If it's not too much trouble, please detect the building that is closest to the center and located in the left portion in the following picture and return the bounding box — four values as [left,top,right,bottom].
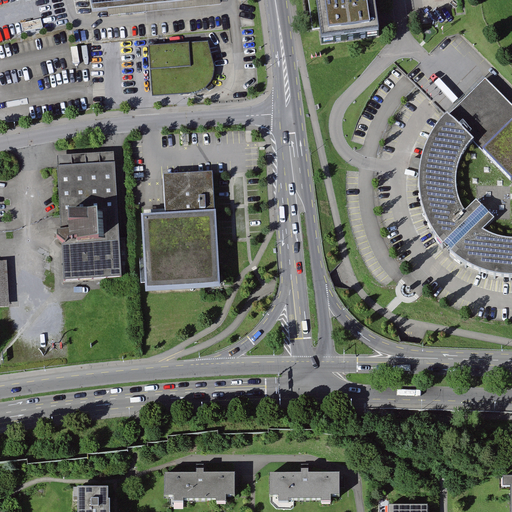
[140,208,220,294]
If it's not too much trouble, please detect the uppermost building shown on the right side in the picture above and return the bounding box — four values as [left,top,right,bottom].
[317,0,378,44]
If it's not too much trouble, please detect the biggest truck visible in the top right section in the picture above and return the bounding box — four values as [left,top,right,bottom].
[430,74,459,105]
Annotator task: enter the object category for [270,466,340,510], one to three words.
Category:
house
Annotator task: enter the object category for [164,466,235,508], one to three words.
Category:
house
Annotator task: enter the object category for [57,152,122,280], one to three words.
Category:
building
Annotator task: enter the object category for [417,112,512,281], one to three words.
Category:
building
